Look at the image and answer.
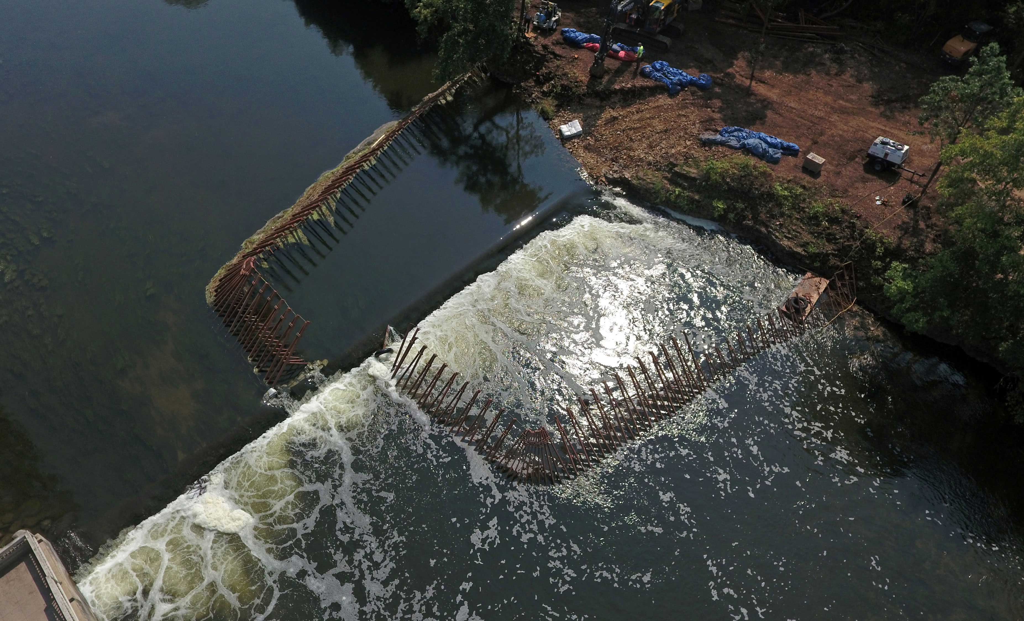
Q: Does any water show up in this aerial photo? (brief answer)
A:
Yes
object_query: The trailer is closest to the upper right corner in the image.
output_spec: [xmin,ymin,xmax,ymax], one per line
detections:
[864,125,938,175]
